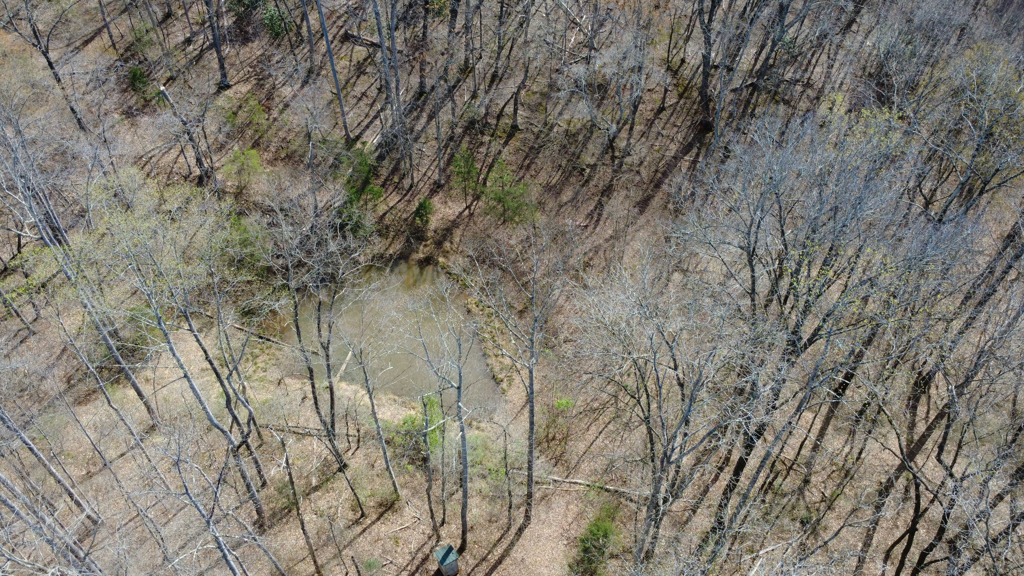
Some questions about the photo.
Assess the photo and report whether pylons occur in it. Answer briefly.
No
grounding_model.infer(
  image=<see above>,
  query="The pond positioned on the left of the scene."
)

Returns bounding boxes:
[278,259,499,424]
